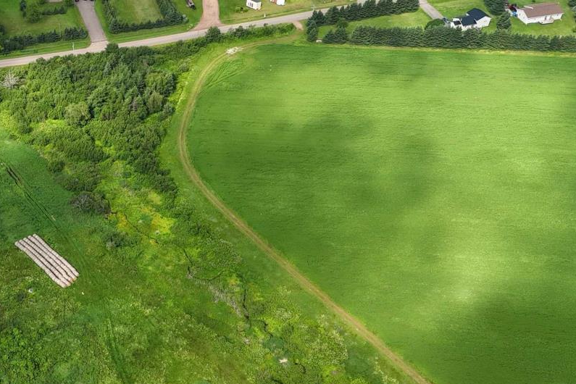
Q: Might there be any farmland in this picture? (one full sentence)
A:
Yes, there is farmland in the image.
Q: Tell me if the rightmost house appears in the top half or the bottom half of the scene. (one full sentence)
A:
The rightmost house is in the top half of the image.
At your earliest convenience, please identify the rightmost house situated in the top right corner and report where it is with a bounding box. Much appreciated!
[507,1,566,24]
